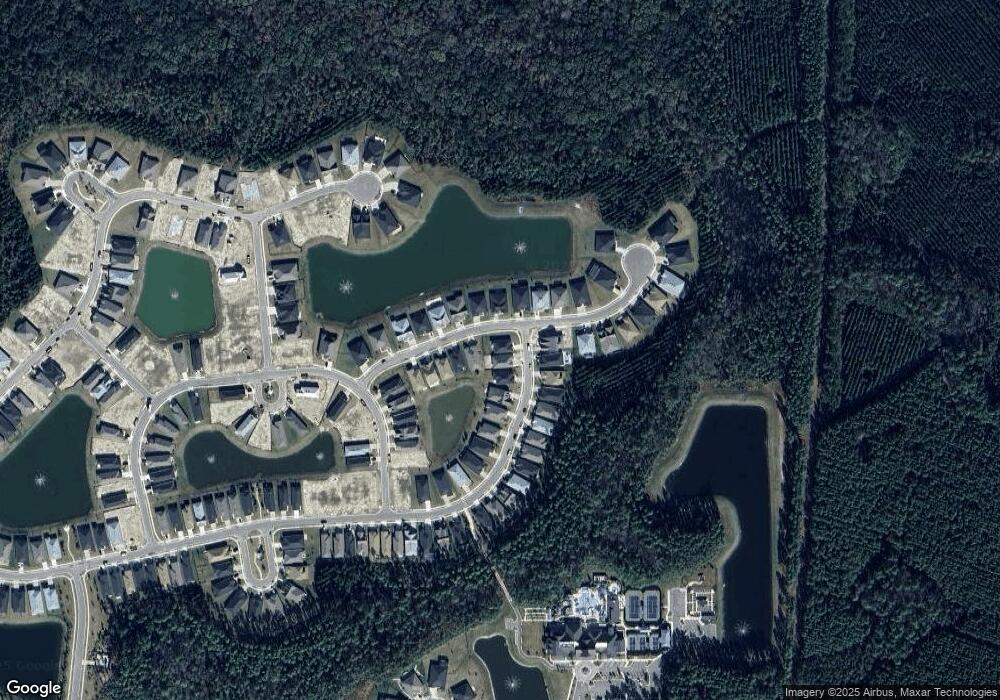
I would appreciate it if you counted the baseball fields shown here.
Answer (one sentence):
I count no baseball fields.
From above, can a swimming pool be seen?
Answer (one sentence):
Yes, there's a swimming pool here.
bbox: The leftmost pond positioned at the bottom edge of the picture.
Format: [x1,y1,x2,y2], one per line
[0,622,61,690]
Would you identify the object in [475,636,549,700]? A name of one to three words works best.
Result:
pond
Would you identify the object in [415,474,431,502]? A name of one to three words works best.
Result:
house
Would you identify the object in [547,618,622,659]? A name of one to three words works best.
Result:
building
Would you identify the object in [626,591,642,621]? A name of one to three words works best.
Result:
tennis court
